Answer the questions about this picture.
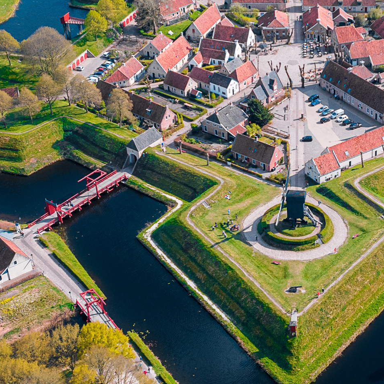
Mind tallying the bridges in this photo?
two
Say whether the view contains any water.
Yes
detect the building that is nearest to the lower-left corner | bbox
[0,236,36,284]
